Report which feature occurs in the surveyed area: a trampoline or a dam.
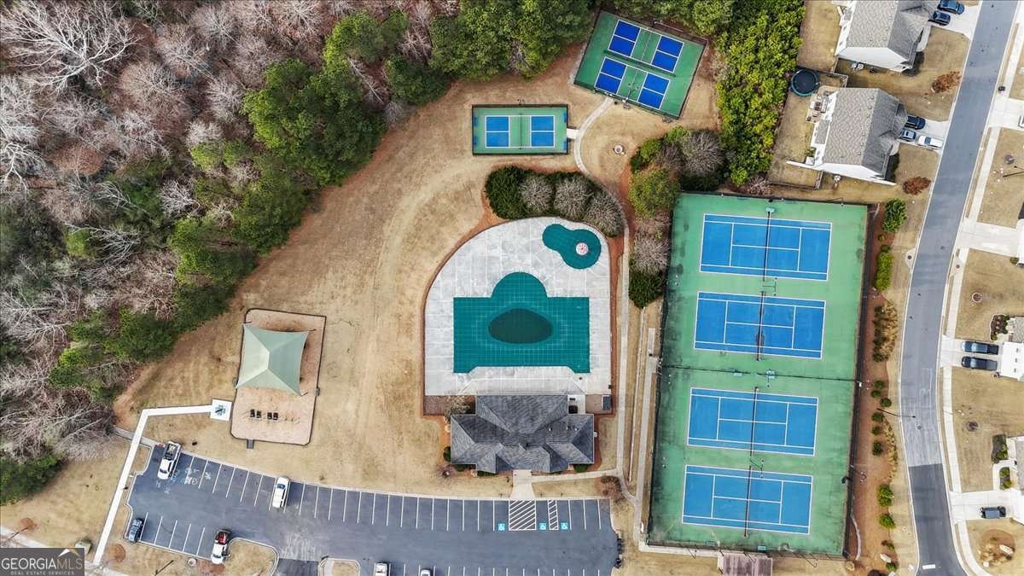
trampoline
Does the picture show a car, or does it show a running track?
car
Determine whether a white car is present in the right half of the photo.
Yes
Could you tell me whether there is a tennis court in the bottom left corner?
No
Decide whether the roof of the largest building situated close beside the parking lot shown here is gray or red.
gray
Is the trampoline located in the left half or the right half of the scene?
right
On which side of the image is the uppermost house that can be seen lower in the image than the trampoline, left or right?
right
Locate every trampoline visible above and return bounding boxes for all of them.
[791,65,825,96]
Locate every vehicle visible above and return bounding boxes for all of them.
[962,341,998,354]
[904,128,920,142]
[915,133,944,149]
[934,0,962,15]
[160,443,181,478]
[960,357,996,370]
[273,478,290,508]
[420,569,431,576]
[212,527,231,562]
[934,10,952,26]
[901,114,928,130]
[375,562,387,576]
[978,505,1005,519]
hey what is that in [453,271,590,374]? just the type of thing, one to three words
swimming pool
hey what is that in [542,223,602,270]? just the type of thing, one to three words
swimming pool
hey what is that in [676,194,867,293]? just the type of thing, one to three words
tennis court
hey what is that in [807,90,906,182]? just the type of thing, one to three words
house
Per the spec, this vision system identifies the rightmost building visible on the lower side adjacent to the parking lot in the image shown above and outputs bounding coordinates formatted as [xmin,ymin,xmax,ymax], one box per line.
[450,394,594,475]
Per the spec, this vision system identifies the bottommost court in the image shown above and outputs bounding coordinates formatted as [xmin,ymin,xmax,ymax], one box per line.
[651,454,848,554]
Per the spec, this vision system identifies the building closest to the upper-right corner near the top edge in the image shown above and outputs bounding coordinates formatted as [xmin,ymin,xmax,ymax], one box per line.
[835,0,937,72]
